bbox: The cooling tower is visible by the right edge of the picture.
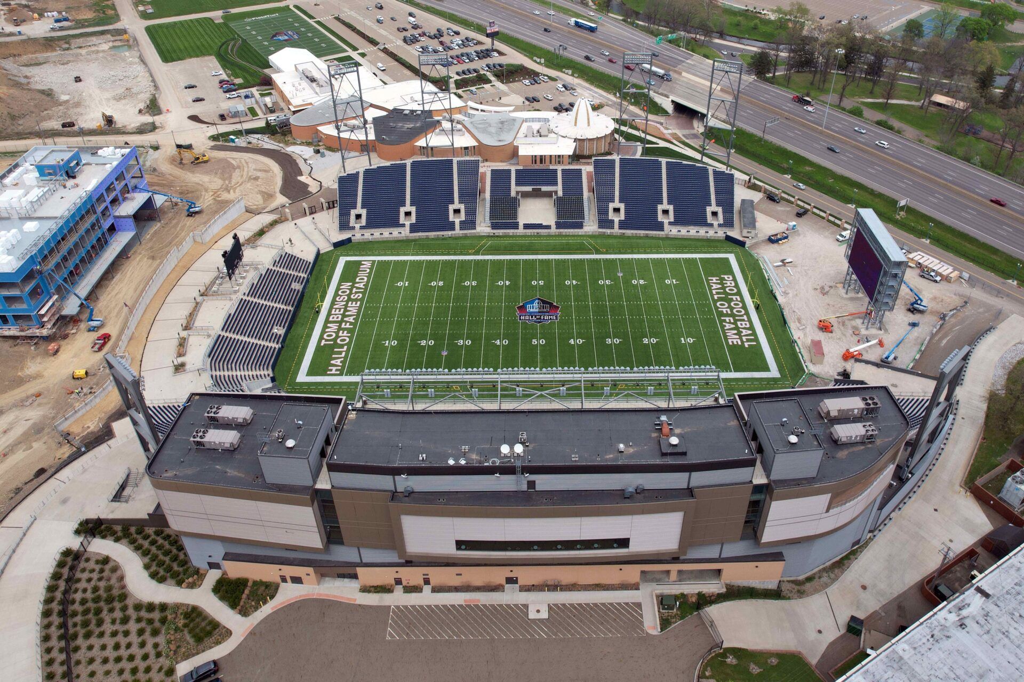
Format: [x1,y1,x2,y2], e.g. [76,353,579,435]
[998,473,1024,514]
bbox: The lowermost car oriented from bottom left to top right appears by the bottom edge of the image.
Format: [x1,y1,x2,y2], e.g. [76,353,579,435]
[183,657,216,682]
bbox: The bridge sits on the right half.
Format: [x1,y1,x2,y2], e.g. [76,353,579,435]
[650,90,732,128]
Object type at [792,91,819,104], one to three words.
vehicle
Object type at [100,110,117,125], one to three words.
work vehicle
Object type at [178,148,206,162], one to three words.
work vehicle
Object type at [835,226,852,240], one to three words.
vehicle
